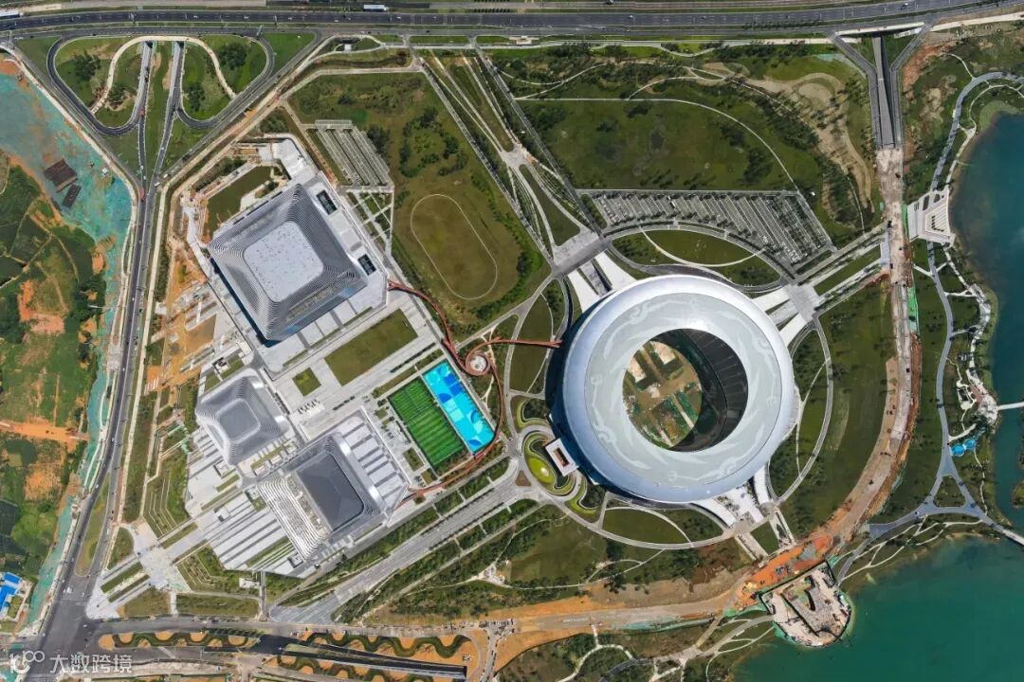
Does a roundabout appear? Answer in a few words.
No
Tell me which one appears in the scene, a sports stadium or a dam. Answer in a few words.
sports stadium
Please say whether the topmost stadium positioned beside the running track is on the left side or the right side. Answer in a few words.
left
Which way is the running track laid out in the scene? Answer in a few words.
on a diagonal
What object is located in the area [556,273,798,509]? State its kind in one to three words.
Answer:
stadium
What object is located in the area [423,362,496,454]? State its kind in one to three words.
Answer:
sports court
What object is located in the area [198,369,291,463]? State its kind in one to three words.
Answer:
building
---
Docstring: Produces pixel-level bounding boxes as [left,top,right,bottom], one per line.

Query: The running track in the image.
[409,193,497,300]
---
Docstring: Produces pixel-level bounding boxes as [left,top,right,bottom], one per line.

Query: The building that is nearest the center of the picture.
[545,438,578,476]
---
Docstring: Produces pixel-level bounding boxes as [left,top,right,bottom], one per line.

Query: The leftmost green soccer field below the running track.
[385,374,467,471]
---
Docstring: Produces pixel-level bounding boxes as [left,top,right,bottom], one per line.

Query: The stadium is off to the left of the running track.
[207,139,388,381]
